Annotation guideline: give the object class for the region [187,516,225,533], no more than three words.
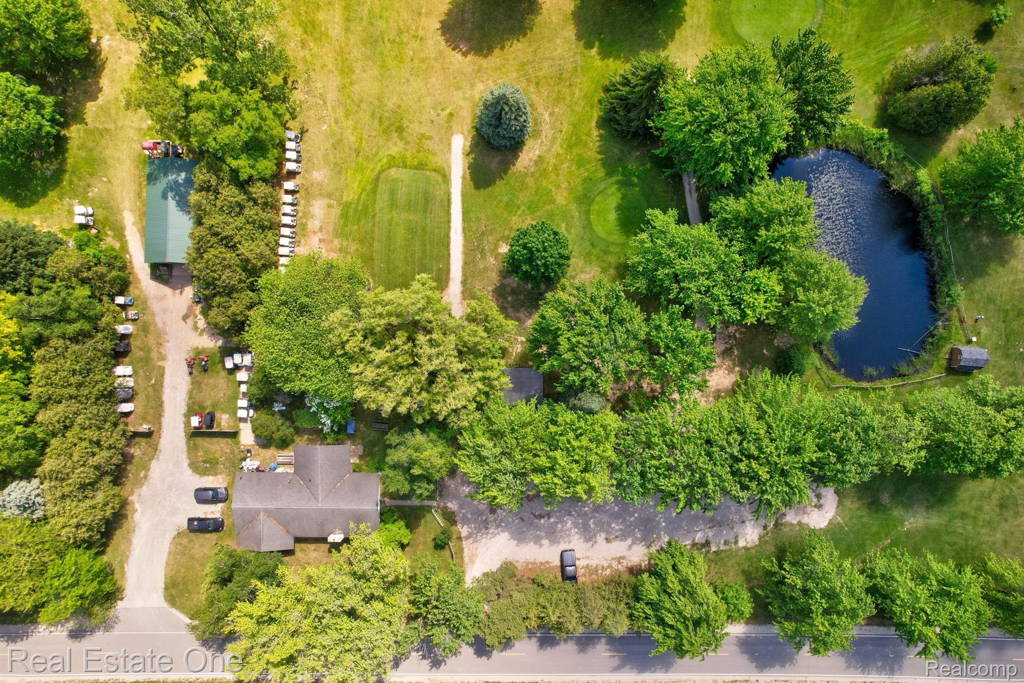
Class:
vehicle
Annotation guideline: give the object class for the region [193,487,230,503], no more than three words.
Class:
car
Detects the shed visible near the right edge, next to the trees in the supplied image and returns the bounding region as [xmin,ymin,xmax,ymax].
[940,347,992,370]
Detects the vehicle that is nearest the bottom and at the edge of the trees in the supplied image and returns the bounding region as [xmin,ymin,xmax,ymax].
[562,547,578,585]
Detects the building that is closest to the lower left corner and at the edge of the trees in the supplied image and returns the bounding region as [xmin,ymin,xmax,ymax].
[231,445,392,551]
